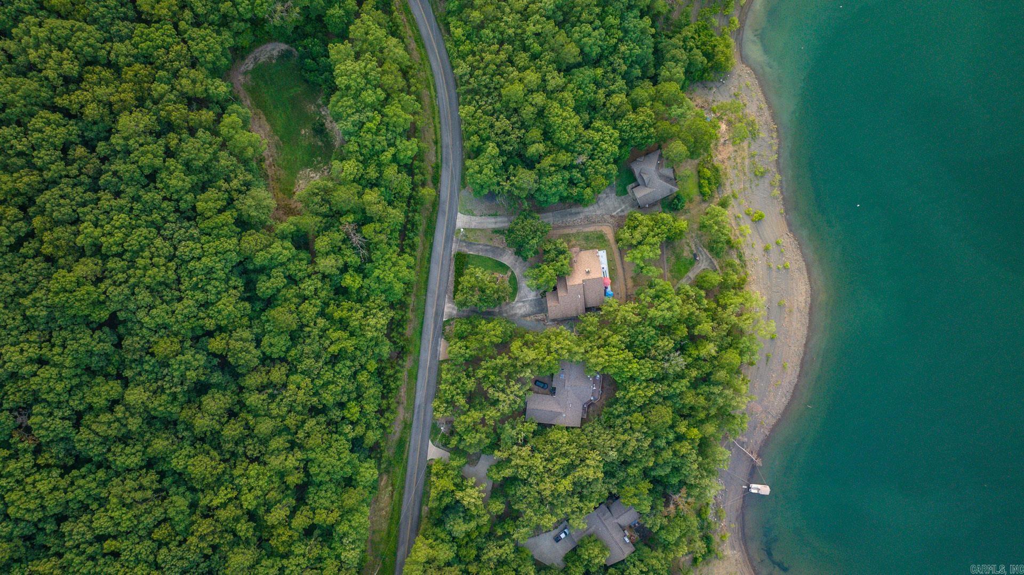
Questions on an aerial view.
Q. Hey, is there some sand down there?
Yes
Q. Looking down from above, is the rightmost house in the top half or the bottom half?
top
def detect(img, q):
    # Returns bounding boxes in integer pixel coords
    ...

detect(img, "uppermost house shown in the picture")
[631,149,679,208]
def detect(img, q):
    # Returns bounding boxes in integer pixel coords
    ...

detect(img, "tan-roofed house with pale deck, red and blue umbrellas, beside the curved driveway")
[546,249,605,319]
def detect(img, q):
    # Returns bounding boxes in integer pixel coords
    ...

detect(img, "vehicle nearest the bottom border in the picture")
[553,528,571,545]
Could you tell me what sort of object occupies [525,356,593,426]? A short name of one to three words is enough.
house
